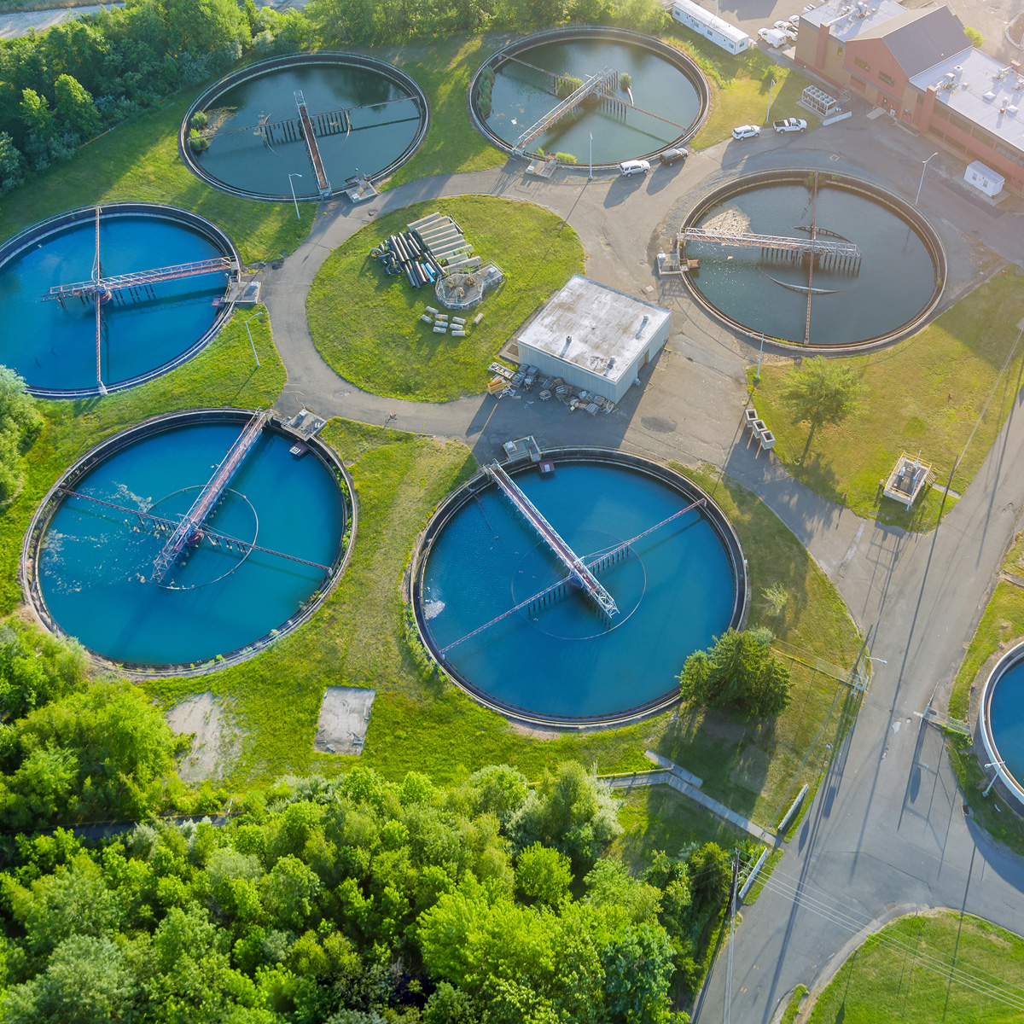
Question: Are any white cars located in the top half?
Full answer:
Yes, I can see a white car in the top half.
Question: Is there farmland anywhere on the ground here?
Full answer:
No, no farmland is visible.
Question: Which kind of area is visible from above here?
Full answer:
It's an industrial area.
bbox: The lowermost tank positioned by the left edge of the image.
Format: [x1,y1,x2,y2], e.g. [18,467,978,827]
[20,404,358,678]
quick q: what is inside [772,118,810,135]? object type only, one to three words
vehicle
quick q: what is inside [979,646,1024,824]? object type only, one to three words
storage tank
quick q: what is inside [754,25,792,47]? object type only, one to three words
truck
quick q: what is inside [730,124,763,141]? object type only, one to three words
car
